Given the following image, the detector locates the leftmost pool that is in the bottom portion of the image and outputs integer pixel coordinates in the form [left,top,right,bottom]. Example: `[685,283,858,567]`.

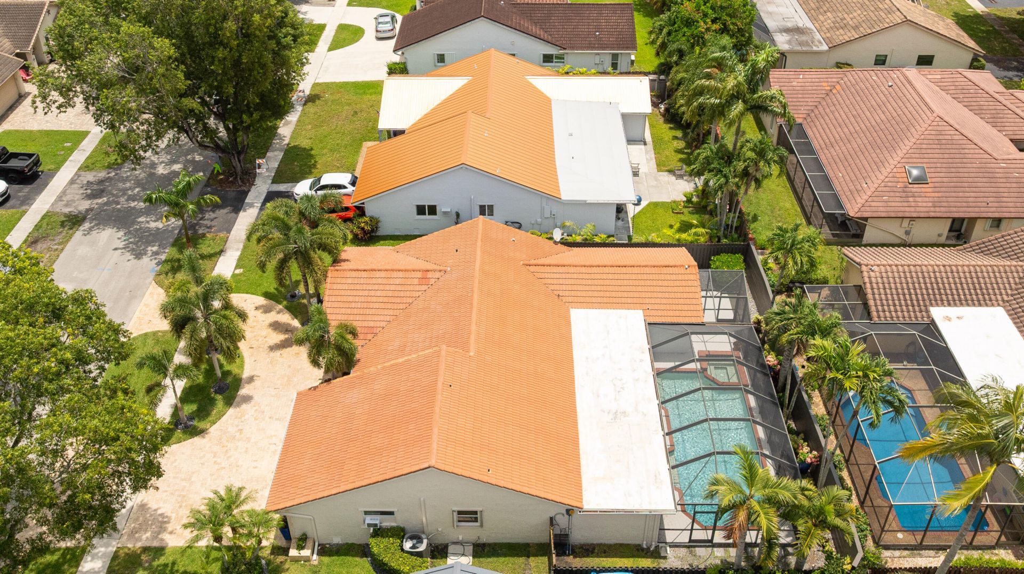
[656,348,779,528]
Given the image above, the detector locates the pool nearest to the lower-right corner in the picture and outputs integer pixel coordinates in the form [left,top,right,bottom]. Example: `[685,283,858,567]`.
[836,379,993,539]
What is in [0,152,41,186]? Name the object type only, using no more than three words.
truck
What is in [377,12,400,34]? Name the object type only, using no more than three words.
car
